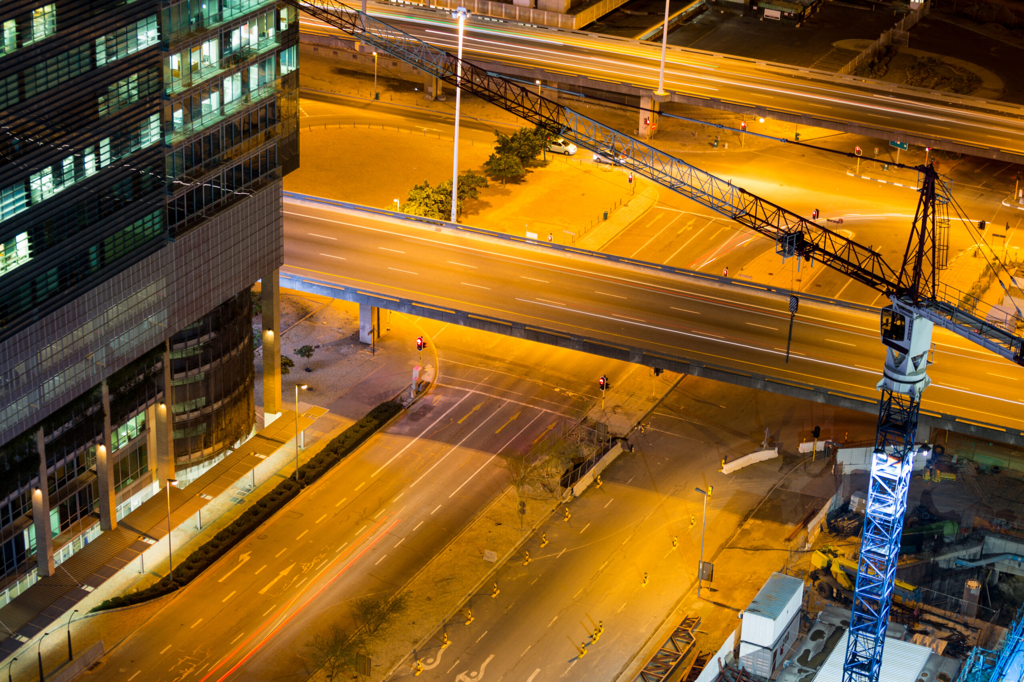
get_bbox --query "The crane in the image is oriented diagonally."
[293,0,1024,682]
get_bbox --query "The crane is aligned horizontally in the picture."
[794,544,941,614]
